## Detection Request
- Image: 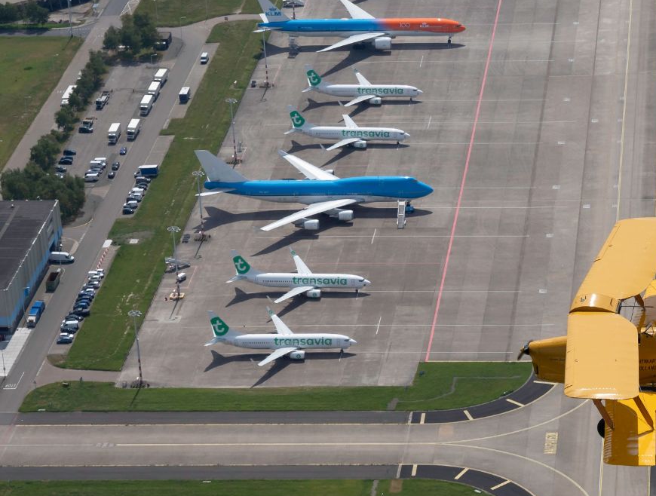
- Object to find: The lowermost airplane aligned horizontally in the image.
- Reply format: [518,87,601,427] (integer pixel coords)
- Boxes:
[205,306,357,367]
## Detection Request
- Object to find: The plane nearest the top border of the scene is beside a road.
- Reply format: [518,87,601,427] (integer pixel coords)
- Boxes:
[251,0,467,53]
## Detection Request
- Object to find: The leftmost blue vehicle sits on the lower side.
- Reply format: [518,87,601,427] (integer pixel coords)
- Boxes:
[28,304,43,324]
